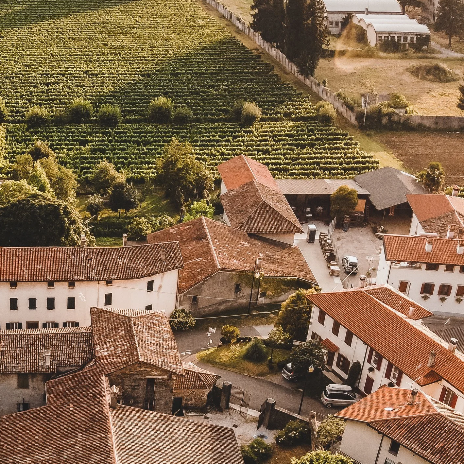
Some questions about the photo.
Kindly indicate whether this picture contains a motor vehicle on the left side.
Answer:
No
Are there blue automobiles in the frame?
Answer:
No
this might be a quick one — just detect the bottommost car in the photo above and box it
[320,384,364,407]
